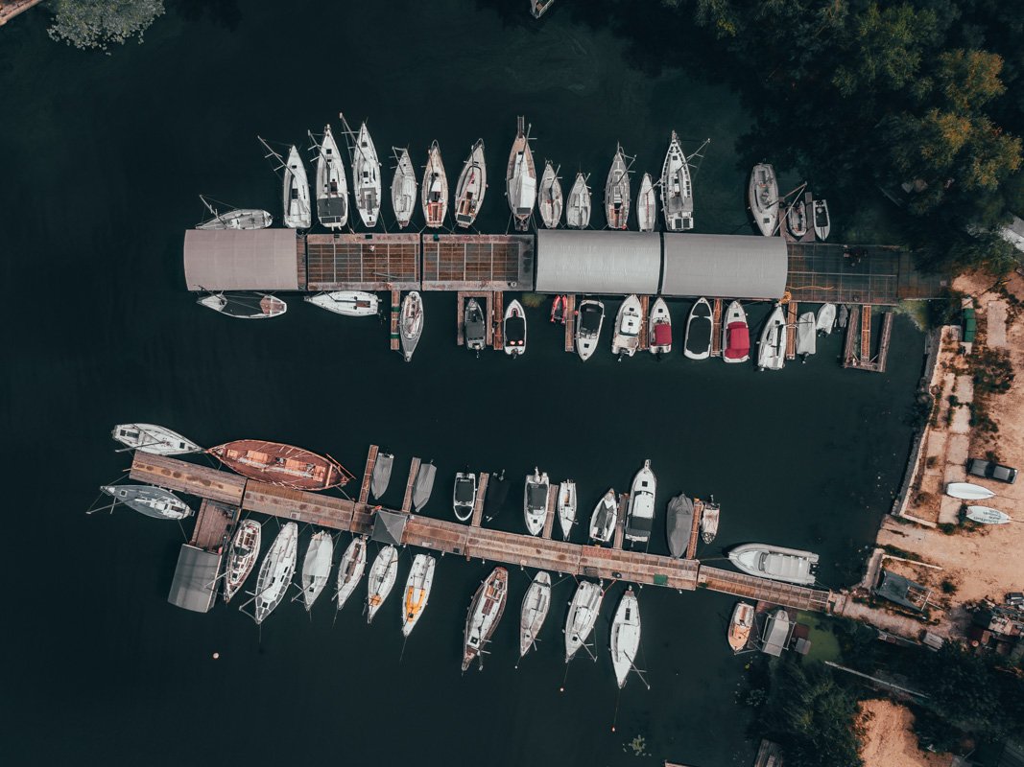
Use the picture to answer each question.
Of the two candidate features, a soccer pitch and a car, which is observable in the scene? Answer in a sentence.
Visible in the photo is a car.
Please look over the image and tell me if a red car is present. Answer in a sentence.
No, I can see no red car in this picture.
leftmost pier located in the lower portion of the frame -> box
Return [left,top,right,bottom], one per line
[129,450,248,507]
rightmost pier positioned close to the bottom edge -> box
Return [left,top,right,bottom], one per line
[752,738,777,767]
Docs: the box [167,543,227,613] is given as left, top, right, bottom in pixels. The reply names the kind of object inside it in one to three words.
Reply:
shed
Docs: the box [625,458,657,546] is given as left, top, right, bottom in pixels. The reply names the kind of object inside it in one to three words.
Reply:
boat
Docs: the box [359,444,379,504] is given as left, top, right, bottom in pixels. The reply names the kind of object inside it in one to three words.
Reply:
pier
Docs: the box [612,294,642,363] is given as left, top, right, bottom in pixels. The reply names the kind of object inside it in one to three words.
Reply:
boat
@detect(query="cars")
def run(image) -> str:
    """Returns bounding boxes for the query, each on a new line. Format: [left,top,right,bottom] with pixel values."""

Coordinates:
[964,457,1019,485]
